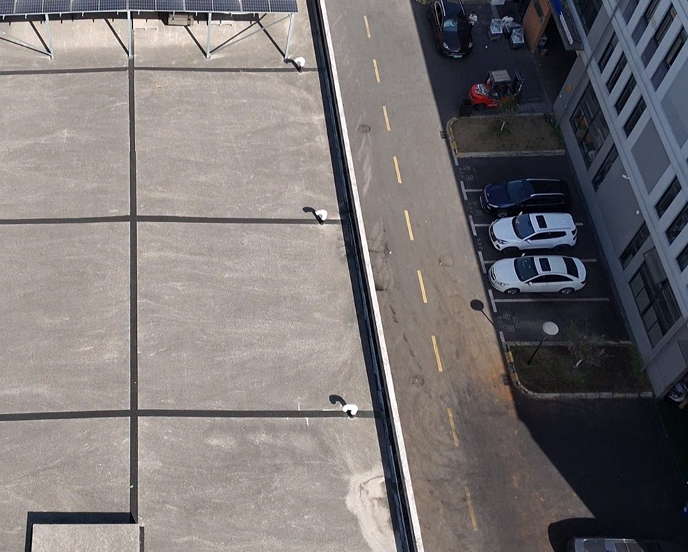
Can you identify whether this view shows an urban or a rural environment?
urban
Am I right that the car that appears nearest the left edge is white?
No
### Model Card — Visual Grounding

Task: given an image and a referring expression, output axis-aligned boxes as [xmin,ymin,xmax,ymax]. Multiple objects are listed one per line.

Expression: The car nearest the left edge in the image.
[430,0,477,54]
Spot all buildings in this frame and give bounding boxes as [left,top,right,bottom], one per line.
[0,0,424,552]
[514,0,688,491]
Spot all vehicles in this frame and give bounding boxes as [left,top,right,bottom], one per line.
[478,173,573,216]
[492,249,593,294]
[567,528,687,552]
[491,208,583,252]
[471,68,530,107]
[430,0,477,54]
